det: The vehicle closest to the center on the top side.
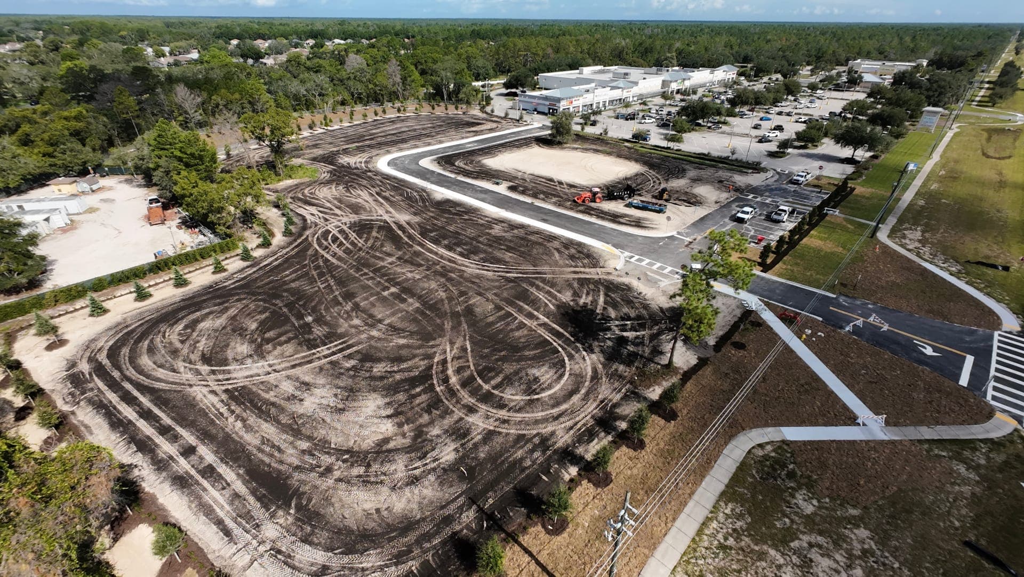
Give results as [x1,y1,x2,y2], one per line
[573,187,604,206]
